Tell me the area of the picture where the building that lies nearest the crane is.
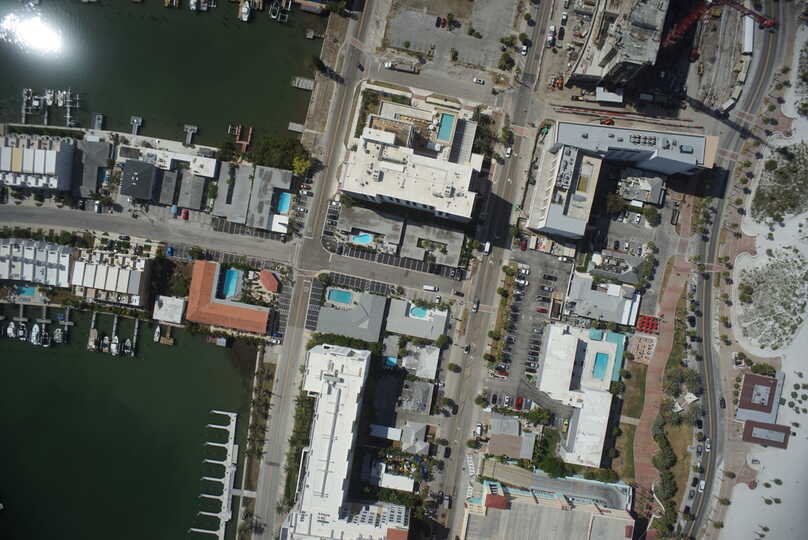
top right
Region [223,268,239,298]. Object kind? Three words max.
swimming pool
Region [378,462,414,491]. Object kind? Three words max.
building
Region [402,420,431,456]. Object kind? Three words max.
house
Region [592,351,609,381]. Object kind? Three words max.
swimming pool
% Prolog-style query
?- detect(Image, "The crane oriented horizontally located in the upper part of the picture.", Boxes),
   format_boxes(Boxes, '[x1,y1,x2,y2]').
[656,0,779,55]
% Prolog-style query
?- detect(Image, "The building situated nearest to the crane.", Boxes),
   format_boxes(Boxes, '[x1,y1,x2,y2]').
[600,0,669,88]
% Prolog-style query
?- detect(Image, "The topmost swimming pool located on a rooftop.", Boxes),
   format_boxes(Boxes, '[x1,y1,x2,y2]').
[437,112,456,143]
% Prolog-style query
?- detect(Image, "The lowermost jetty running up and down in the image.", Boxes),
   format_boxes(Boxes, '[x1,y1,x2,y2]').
[186,409,239,540]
